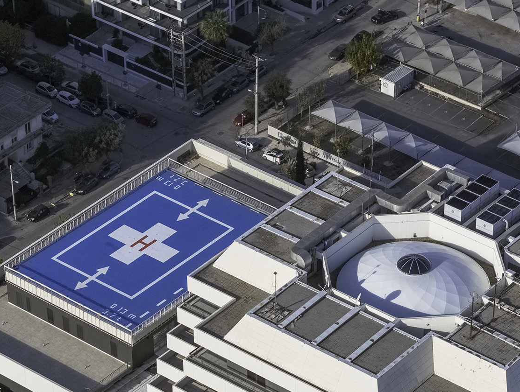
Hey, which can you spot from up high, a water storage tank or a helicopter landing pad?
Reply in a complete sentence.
This aerial view contains a helicopter landing pad.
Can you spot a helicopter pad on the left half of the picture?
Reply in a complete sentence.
Yes, a helicopter pad is visible on the left half of the picture.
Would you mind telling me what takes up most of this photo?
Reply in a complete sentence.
The scene is dominated by buildings.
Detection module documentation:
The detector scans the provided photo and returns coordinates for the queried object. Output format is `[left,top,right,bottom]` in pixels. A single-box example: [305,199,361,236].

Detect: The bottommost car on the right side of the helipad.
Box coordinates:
[306,168,323,183]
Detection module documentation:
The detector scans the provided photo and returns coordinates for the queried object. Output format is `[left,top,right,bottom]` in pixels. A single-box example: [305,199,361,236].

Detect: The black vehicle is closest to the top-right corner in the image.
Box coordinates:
[369,10,400,26]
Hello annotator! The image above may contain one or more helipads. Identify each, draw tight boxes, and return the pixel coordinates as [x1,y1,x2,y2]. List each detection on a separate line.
[10,164,276,344]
